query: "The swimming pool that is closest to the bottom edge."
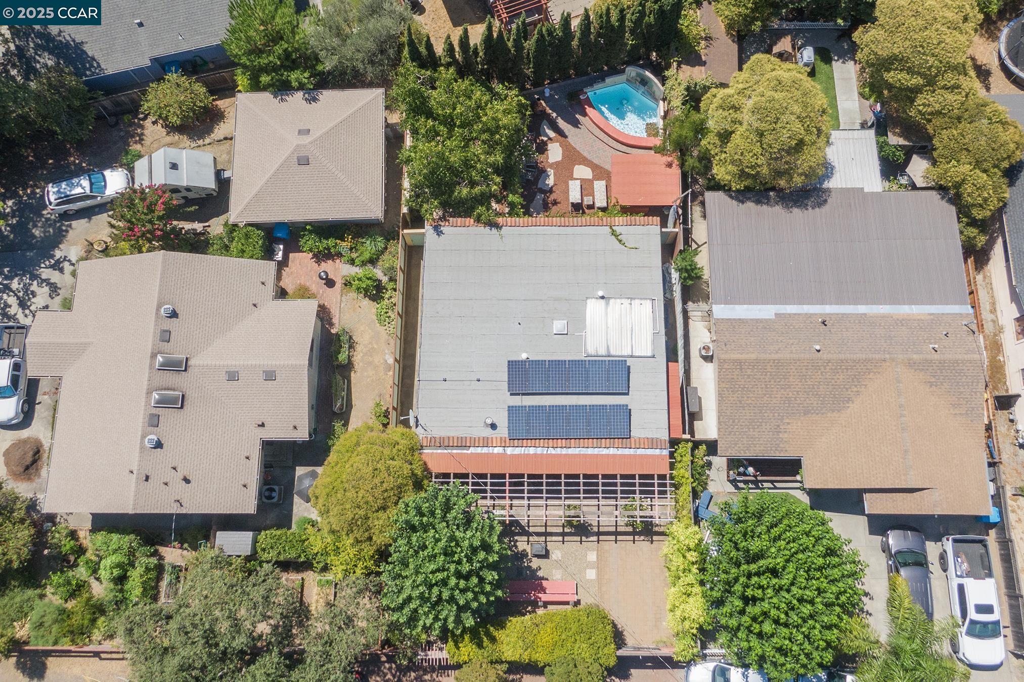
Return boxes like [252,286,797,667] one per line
[570,63,667,154]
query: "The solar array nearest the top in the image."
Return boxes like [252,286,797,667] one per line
[507,360,629,393]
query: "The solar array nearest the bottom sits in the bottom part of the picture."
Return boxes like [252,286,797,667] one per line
[507,405,631,438]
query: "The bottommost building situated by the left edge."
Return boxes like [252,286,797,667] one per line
[25,251,324,515]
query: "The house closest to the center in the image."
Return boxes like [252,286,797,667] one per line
[413,217,683,474]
